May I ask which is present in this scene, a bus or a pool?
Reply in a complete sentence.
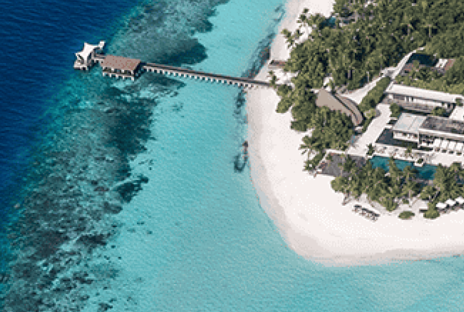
Looking from above, you can make out a pool.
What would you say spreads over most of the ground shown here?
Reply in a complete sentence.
The scene is dominated by water.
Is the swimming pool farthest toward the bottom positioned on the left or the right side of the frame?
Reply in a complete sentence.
The swimming pool farthest toward the bottom appears in the right half of the scene.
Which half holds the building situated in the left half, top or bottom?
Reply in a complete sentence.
The building situated in the left half sits in the top half of the picture.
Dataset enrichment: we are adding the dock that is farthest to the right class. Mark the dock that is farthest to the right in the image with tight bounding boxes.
[102,65,274,91]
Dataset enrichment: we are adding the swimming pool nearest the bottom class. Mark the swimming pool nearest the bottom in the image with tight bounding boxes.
[367,156,464,183]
